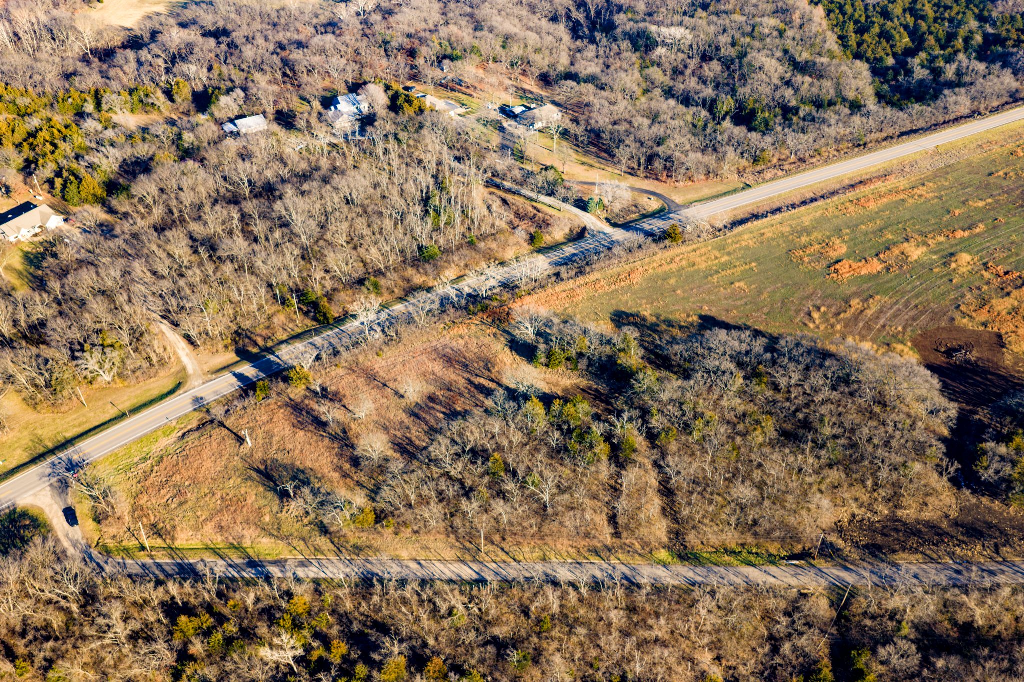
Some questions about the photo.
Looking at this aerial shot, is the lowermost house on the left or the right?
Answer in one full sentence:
It is on the left.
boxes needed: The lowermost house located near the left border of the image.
[0,203,65,248]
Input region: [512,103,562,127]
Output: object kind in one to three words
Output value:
house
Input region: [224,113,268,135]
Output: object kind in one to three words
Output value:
barn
